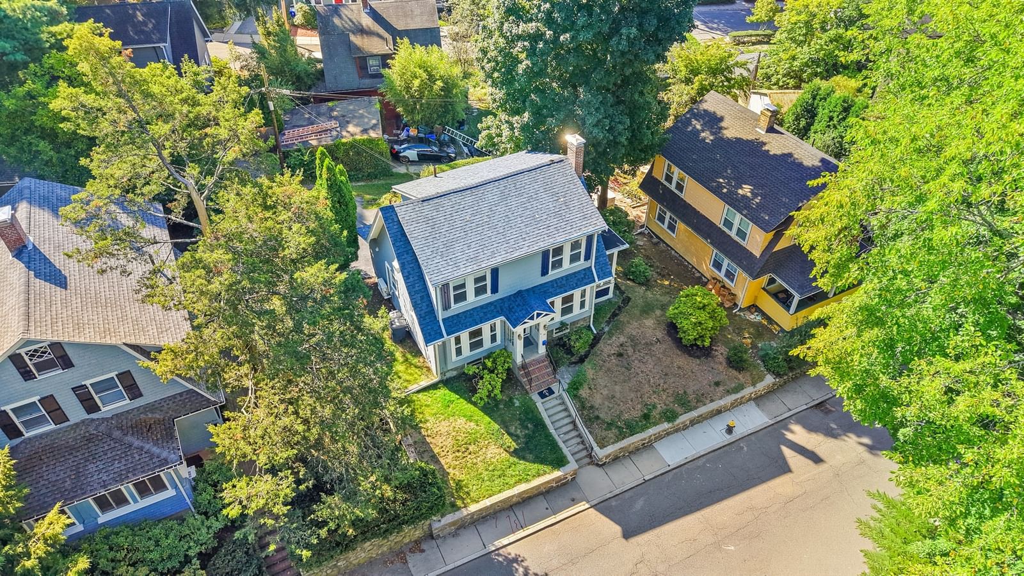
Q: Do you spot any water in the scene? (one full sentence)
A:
No, no water is visible.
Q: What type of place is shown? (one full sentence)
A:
What you see here is a residential area.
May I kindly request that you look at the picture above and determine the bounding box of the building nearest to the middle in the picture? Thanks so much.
[359,133,633,386]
